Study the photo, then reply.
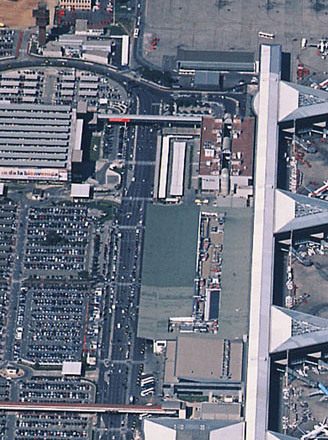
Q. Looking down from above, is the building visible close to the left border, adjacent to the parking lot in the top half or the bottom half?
top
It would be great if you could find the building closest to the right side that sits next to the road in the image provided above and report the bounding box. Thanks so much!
[246,43,281,440]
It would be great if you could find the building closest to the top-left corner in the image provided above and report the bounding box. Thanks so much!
[33,8,50,46]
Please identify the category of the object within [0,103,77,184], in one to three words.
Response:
building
